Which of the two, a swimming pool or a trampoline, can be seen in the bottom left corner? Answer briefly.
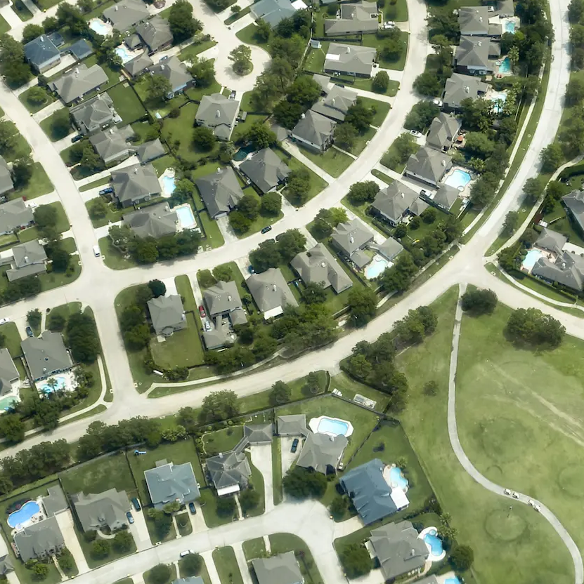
swimming pool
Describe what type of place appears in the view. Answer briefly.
residential area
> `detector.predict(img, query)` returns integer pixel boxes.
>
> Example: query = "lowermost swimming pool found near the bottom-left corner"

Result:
[5,497,47,532]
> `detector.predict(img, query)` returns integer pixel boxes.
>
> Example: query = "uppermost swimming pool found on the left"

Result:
[91,18,114,37]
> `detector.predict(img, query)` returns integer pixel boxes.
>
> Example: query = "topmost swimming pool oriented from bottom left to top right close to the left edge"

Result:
[0,381,21,413]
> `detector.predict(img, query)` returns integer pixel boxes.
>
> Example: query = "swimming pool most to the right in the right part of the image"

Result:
[523,246,554,271]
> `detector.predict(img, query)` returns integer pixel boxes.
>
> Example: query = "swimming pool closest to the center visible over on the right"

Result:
[364,255,392,280]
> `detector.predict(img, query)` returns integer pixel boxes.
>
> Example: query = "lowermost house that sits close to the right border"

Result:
[535,250,584,289]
